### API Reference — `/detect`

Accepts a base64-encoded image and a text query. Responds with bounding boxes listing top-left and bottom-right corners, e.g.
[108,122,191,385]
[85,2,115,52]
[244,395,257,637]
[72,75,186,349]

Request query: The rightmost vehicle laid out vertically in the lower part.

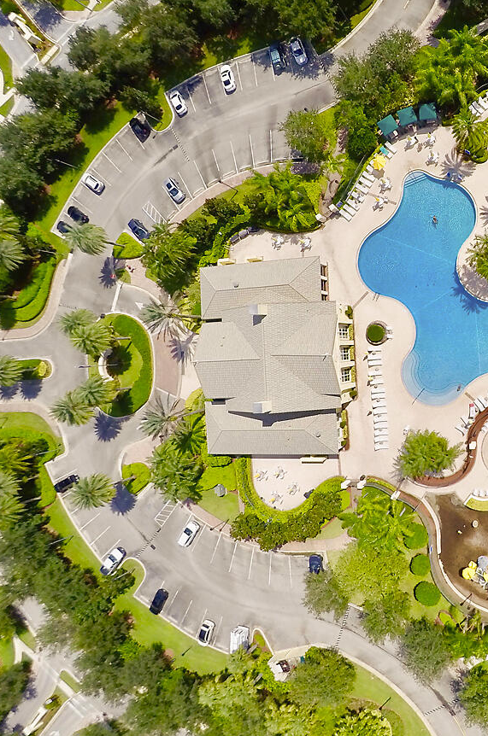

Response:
[306,548,321,579]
